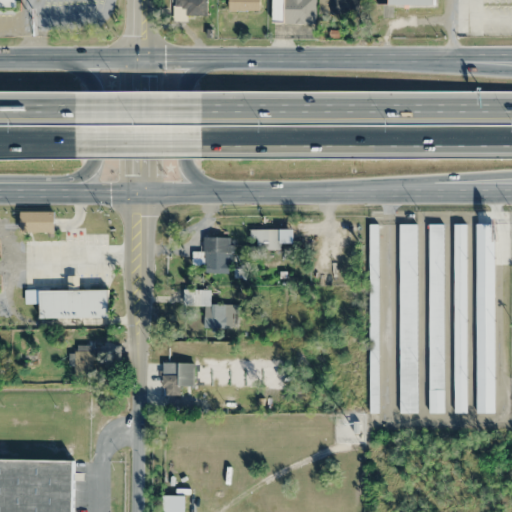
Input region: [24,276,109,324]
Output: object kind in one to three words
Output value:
building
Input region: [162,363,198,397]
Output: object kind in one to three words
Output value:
house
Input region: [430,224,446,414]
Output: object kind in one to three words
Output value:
building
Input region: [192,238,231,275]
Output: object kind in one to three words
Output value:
house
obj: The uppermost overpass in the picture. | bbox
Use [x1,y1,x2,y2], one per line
[0,90,512,160]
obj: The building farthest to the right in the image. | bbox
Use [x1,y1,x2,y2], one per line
[476,224,496,414]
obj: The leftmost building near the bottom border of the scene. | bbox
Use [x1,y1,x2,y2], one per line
[0,461,74,512]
